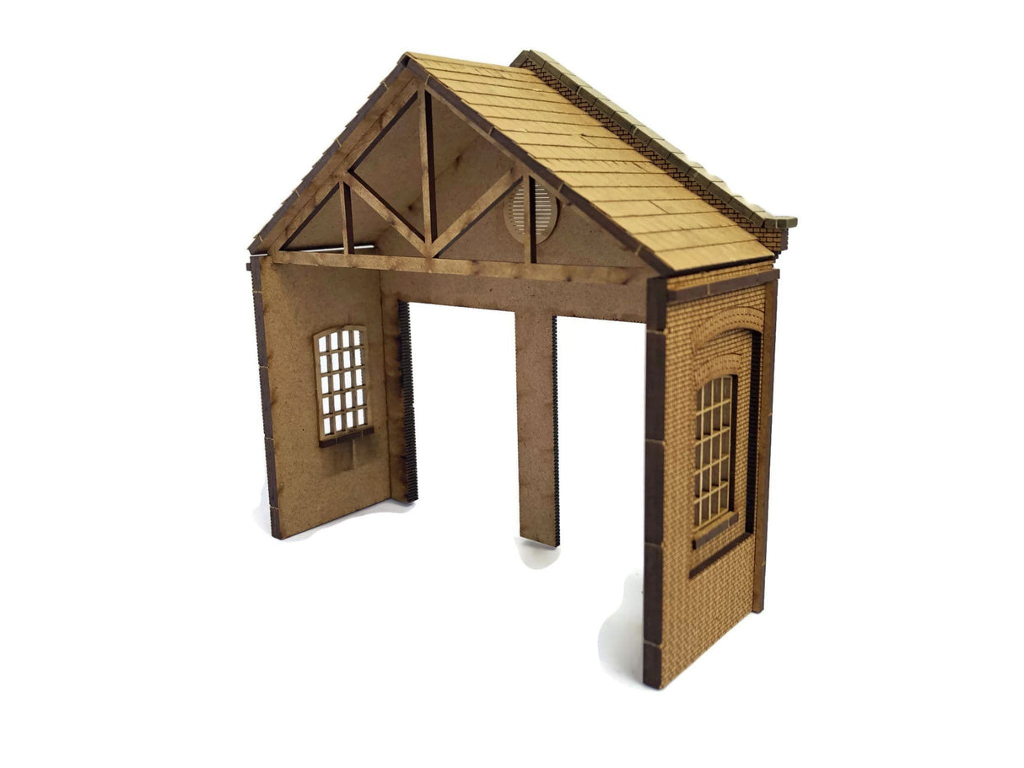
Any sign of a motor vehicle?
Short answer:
No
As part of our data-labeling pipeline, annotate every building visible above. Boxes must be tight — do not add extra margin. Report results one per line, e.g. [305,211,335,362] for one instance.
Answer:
[247,51,797,690]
